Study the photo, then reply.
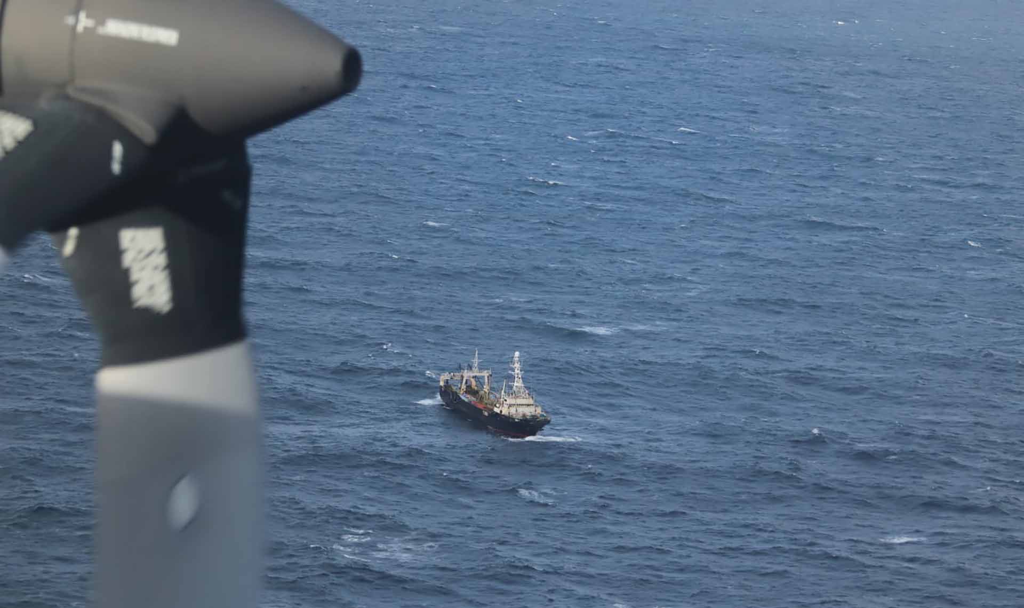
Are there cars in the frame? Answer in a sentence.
No, no car is visible in the view.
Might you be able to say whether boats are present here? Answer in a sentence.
Yes, there's a boat down there.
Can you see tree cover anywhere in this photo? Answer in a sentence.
No, there's no tree cover in this view.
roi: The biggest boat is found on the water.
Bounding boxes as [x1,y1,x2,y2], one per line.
[438,351,554,438]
